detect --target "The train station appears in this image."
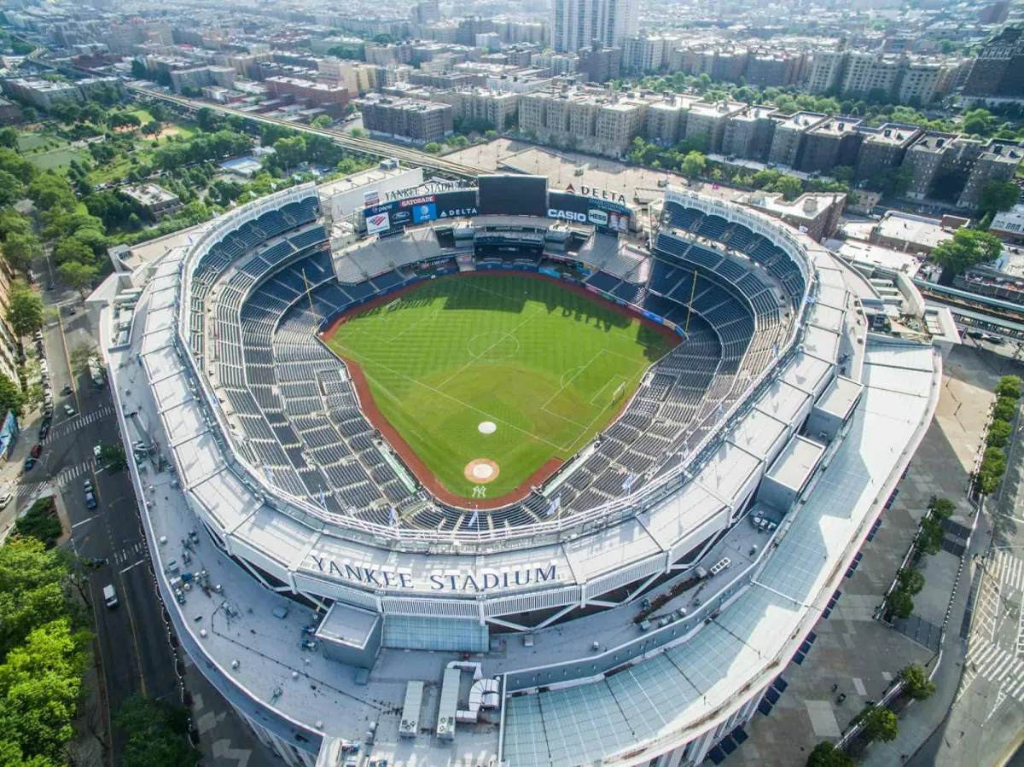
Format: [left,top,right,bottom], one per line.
[911,256,1024,351]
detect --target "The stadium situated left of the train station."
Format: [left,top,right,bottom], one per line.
[85,157,962,767]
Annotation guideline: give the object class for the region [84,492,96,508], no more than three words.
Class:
vehicle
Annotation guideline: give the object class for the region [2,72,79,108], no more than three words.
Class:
building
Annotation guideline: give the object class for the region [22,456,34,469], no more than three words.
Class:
vehicle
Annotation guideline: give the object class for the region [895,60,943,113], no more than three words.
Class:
building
